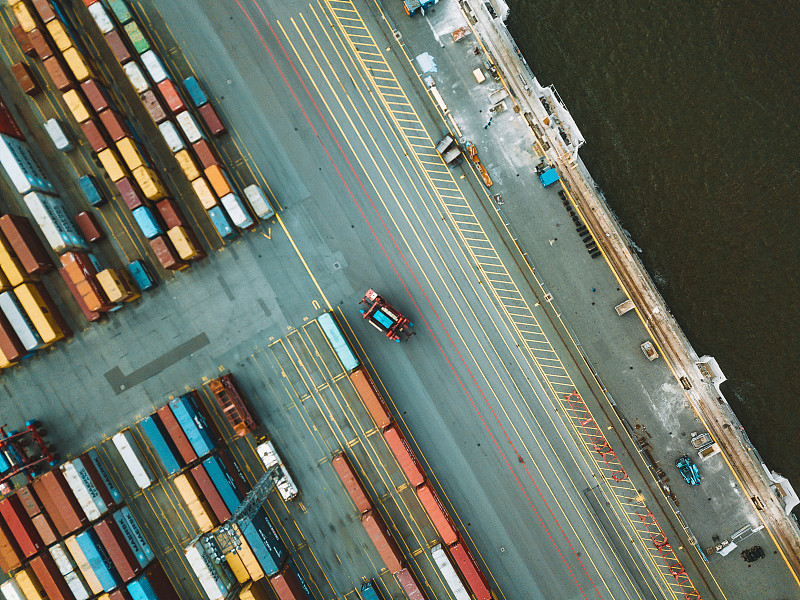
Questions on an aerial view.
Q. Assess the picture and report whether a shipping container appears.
Yes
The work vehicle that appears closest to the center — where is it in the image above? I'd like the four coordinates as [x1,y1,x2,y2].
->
[354,291,415,345]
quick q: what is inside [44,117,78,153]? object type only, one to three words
shipping container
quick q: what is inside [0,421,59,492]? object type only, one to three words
work vehicle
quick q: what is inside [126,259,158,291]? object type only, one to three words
shipping container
